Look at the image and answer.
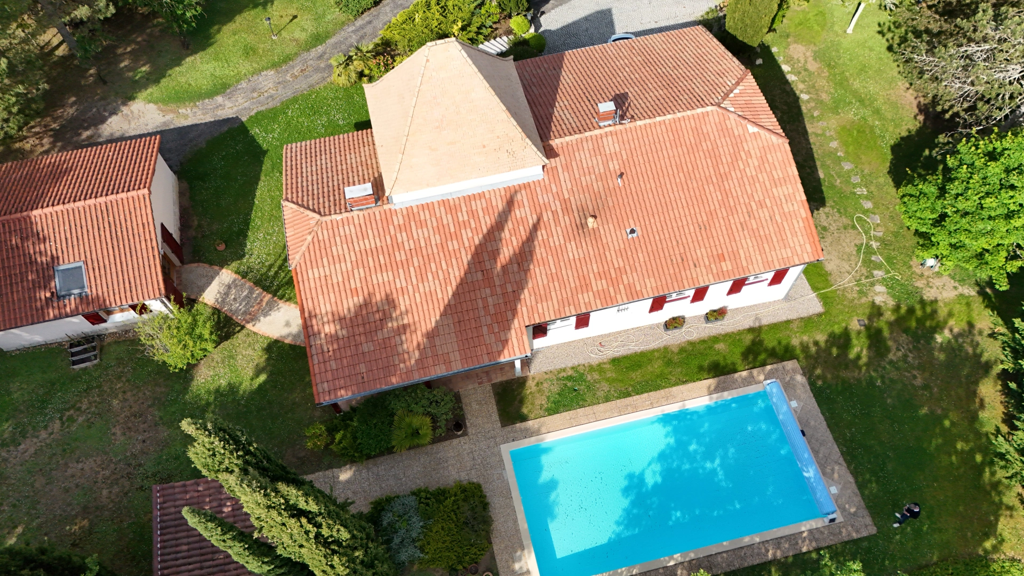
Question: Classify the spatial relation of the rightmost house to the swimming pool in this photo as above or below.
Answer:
above it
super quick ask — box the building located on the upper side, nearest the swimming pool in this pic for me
[280,25,824,407]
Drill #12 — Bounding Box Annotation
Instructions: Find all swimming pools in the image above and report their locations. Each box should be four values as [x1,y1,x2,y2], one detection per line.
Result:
[501,383,840,576]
